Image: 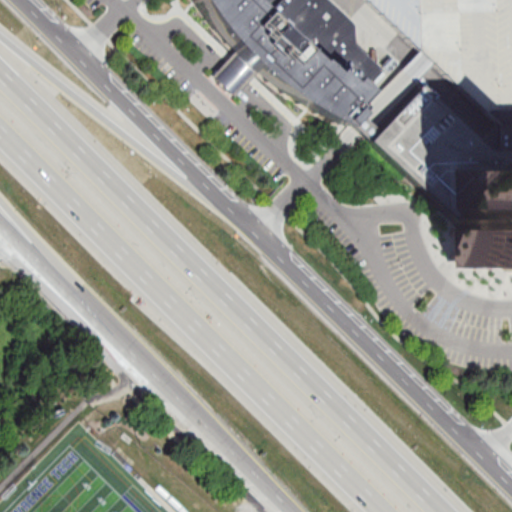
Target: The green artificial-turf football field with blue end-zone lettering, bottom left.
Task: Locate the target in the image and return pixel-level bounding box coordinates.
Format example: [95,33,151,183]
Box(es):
[0,424,167,512]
